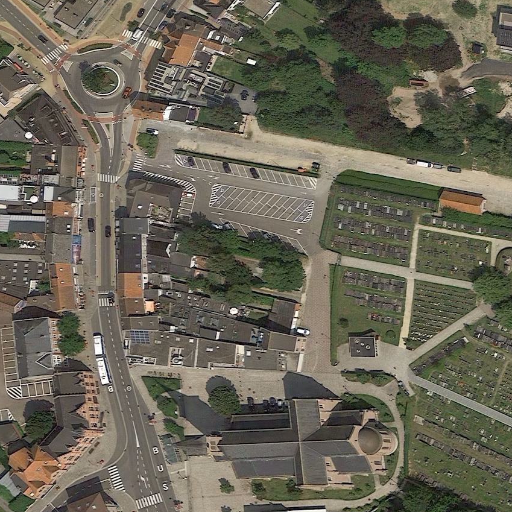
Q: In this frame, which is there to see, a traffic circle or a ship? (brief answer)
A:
traffic circle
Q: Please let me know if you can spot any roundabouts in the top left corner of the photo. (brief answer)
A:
Yes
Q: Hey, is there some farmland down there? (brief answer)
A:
No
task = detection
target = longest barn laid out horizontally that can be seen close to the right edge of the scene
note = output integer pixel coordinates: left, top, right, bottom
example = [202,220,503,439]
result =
[439,190,489,214]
